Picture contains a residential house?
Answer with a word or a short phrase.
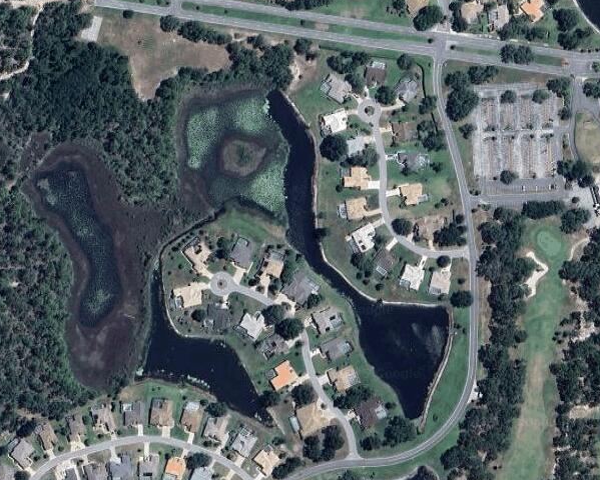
Yes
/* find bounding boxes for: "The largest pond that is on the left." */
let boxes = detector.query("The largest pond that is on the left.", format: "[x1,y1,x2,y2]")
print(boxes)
[141,250,277,426]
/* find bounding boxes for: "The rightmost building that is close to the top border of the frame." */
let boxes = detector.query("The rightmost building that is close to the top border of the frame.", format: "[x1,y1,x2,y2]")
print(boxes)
[522,0,548,22]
